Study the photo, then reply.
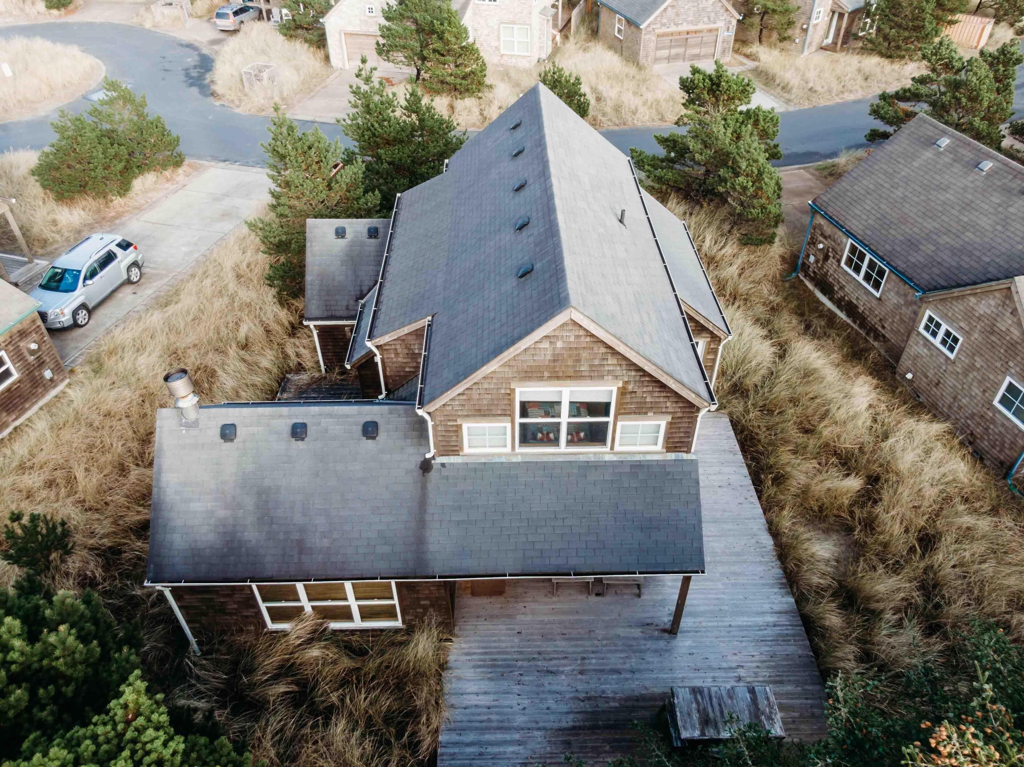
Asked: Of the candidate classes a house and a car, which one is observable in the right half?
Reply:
house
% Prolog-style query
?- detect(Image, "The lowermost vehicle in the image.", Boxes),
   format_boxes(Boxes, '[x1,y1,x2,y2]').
[29,227,148,334]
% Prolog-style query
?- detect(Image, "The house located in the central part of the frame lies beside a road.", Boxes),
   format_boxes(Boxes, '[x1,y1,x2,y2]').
[141,82,734,640]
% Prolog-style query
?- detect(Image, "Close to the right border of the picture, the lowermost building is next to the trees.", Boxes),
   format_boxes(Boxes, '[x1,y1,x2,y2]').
[785,106,1024,498]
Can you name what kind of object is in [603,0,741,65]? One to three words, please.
building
